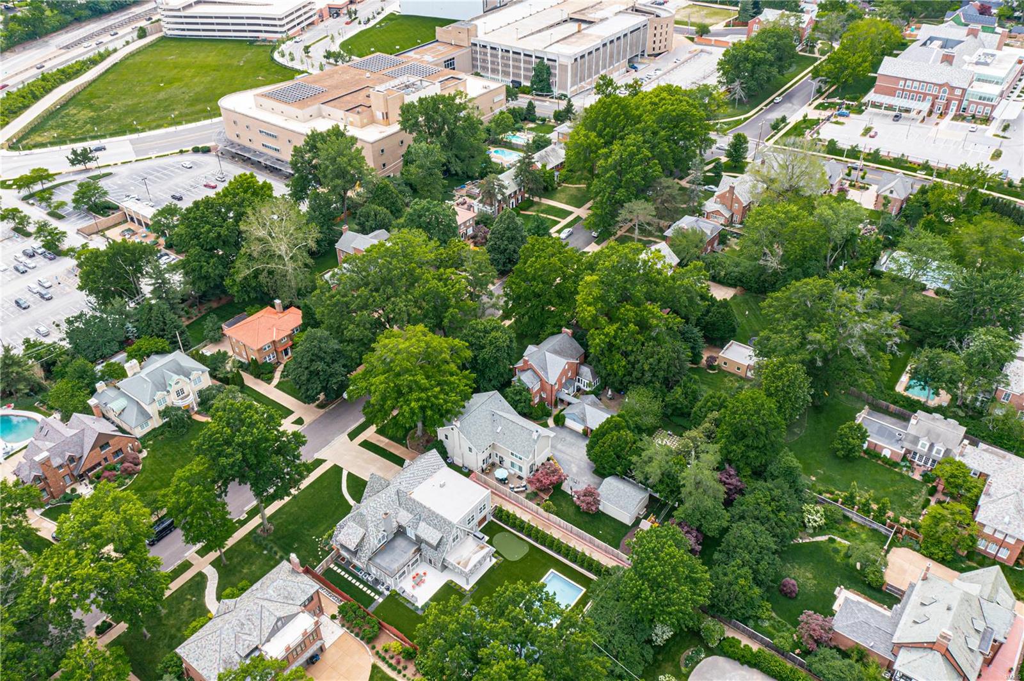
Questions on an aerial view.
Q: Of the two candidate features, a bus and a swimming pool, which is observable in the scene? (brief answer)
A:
swimming pool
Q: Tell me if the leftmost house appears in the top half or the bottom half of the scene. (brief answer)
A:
bottom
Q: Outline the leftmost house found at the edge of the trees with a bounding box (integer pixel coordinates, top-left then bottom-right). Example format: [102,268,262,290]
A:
[13,413,137,501]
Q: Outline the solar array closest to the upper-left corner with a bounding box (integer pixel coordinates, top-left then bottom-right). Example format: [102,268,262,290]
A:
[265,81,323,102]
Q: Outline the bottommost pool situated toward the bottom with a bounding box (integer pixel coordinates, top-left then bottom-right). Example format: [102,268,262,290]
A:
[527,569,585,618]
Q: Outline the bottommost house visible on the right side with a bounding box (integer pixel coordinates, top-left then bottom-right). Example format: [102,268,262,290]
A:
[830,561,1016,681]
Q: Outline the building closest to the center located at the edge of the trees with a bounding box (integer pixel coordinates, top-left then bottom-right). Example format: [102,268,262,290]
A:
[512,327,600,408]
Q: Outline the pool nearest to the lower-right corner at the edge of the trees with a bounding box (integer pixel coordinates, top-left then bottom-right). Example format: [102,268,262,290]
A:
[895,369,952,407]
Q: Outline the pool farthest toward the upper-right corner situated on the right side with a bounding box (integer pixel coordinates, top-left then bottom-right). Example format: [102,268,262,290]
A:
[877,250,957,291]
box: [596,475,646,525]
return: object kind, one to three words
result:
building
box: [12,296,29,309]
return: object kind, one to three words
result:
vehicle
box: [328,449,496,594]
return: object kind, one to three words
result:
house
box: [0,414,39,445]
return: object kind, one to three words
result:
swimming pool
